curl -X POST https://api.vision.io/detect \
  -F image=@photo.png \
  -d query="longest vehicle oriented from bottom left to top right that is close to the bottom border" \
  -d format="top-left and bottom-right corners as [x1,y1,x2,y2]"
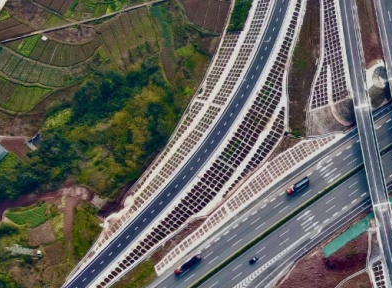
[173,253,200,275]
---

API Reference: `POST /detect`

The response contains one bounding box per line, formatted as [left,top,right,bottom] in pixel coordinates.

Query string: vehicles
[173,253,200,275]
[247,255,257,265]
[286,176,309,194]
